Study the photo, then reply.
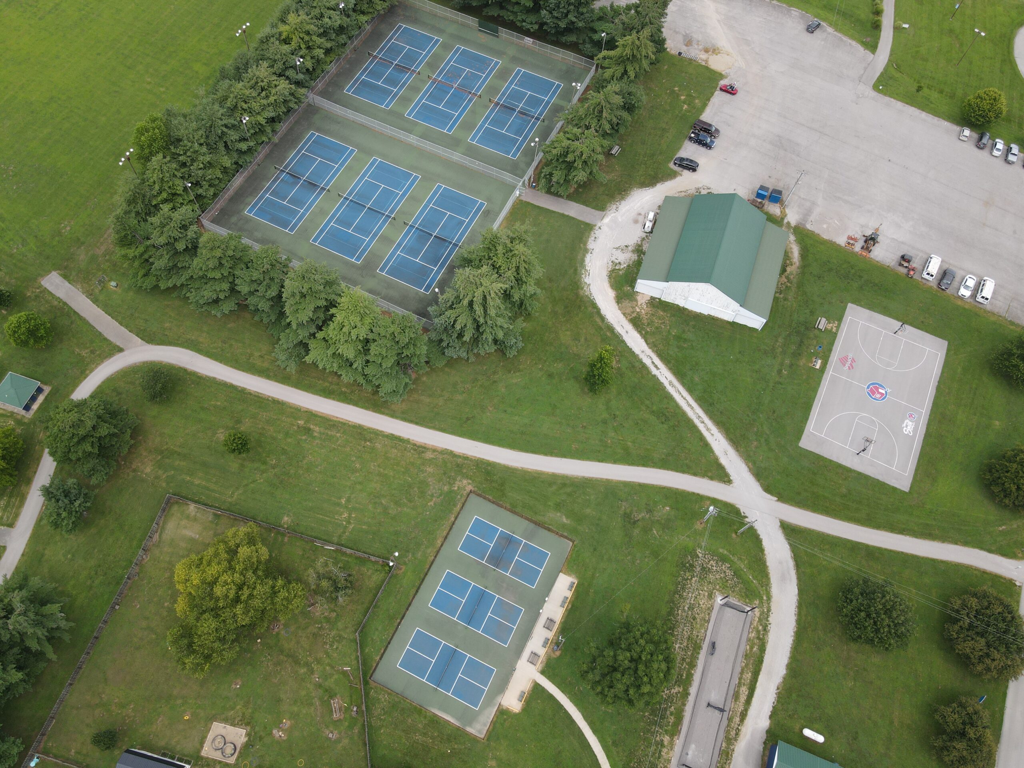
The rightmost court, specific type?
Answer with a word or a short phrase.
basketball court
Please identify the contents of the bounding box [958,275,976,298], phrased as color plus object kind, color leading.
white car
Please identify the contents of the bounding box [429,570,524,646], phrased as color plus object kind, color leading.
blue sports court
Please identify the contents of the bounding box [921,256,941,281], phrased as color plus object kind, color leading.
white vehicle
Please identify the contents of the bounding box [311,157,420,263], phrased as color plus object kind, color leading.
blue tennis court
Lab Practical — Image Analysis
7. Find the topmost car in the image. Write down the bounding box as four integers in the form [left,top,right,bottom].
[807,20,821,34]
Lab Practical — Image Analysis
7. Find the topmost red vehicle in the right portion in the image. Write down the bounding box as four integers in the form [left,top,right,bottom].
[719,82,739,95]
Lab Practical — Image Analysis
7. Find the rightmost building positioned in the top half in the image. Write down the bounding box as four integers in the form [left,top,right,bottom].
[634,193,789,331]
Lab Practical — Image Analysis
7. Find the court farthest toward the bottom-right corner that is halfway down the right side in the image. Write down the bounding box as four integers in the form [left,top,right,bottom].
[799,303,948,491]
